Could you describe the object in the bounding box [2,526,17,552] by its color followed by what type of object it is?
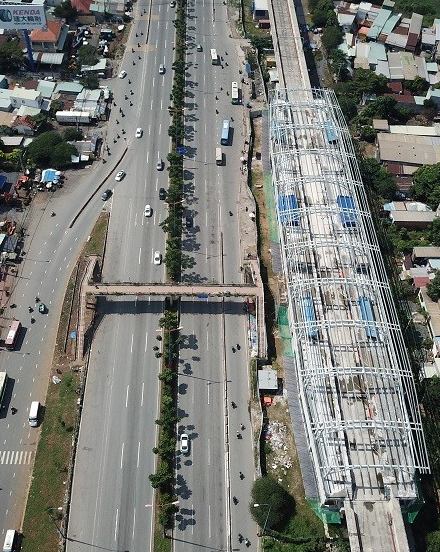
white vehicle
